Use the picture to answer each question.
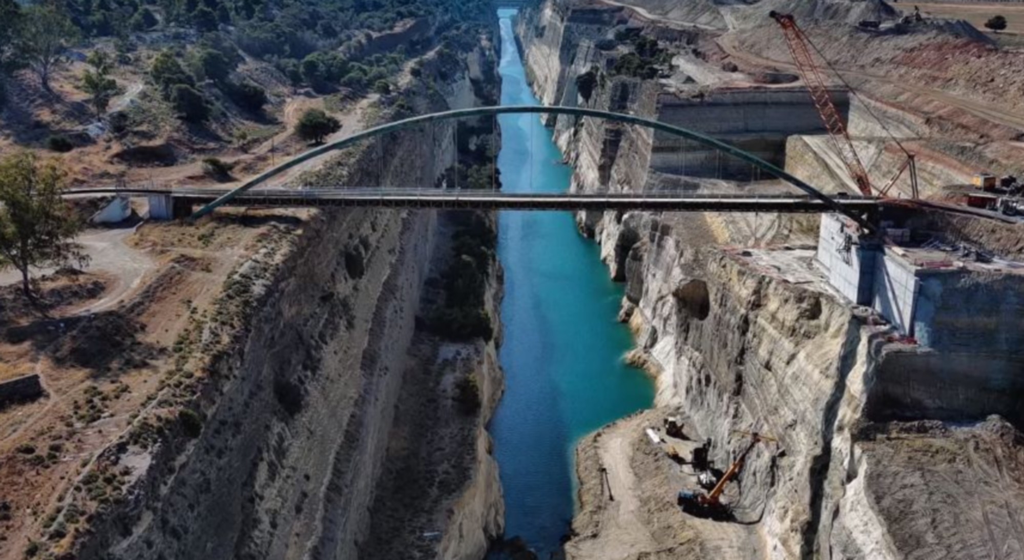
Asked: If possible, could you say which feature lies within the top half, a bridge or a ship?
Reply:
bridge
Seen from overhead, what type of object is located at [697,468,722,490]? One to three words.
truck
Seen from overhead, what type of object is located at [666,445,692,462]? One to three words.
work vehicle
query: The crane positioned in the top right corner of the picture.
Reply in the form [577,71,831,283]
[769,10,919,187]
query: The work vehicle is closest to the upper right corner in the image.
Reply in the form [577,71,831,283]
[903,5,928,20]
